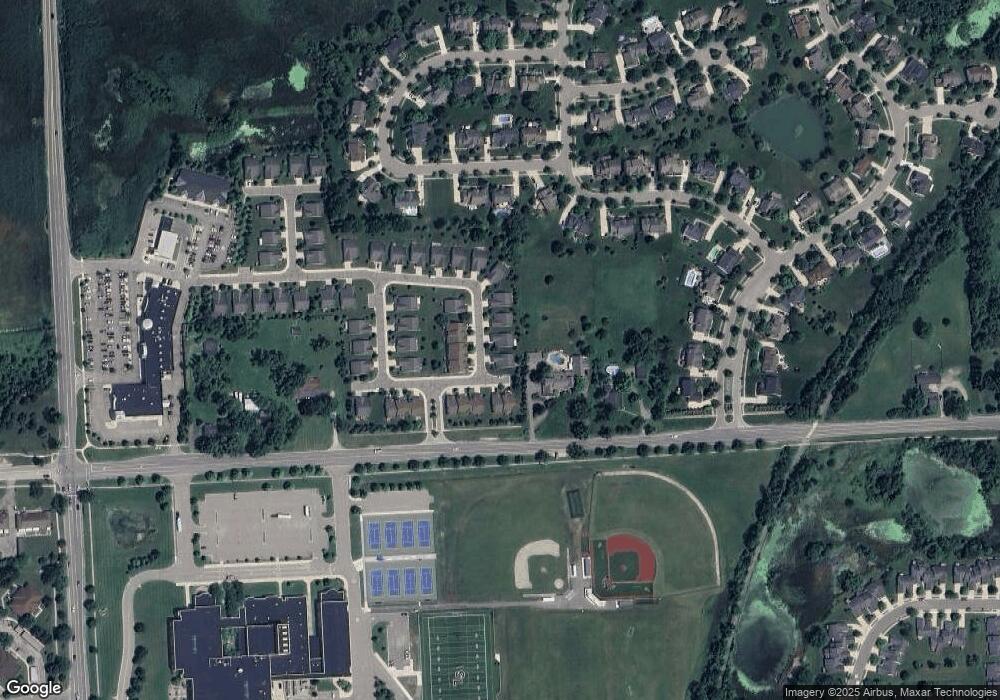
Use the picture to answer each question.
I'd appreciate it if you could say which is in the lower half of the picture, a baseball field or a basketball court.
baseball field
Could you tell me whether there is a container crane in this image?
No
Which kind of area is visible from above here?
residential area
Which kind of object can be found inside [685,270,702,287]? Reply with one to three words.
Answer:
swimming pool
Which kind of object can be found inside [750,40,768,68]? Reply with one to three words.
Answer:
house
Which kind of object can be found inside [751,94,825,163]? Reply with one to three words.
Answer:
pond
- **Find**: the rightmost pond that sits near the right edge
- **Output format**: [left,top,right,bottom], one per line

[904,452,975,534]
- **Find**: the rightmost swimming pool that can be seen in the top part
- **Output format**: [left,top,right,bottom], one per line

[872,238,892,259]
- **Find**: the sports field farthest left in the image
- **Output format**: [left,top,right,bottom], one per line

[420,608,498,700]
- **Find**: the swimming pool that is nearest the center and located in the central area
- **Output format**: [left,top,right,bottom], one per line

[549,351,567,368]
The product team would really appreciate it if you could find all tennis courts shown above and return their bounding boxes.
[384,521,397,549]
[370,569,384,597]
[420,566,434,594]
[388,568,400,596]
[417,519,431,547]
[400,520,414,548]
[367,521,381,549]
[403,567,417,595]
